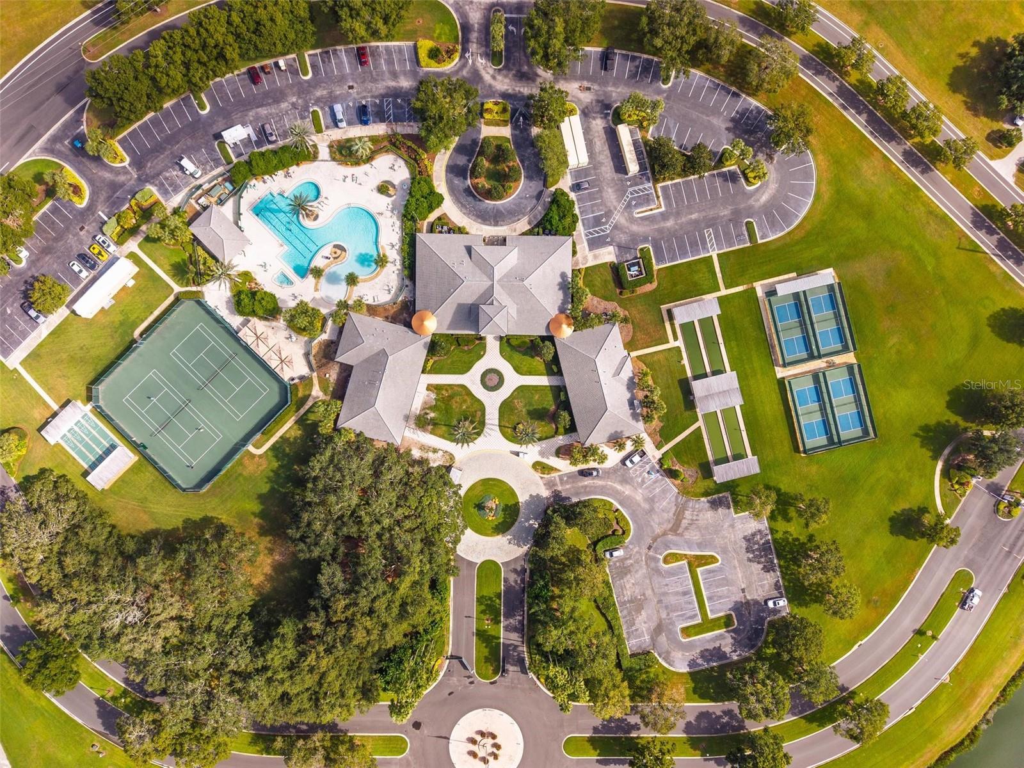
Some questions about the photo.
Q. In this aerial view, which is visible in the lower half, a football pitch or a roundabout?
roundabout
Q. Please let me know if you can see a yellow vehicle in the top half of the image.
Yes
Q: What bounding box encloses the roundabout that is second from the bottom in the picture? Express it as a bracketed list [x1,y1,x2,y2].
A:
[435,450,546,563]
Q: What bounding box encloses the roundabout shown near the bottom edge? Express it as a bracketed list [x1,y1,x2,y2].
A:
[449,708,524,768]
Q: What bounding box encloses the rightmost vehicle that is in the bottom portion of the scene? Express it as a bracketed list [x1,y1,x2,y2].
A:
[962,588,979,612]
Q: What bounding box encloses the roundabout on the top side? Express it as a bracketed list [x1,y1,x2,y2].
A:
[468,99,524,203]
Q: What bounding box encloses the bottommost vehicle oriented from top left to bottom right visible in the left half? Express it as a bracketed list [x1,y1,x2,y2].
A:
[21,302,45,323]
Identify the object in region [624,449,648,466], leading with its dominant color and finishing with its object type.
white vehicle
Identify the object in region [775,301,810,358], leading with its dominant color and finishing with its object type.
blue sports court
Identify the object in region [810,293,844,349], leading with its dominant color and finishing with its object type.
blue sports court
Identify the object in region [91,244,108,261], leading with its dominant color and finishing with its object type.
yellow car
